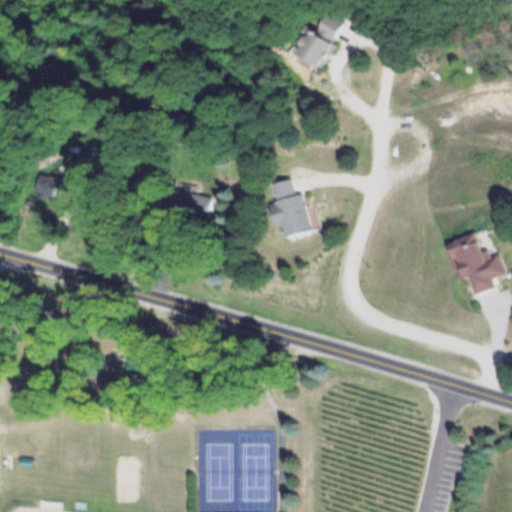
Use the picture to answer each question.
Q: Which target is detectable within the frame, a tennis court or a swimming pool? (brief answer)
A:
tennis court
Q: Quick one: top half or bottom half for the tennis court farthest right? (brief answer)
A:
bottom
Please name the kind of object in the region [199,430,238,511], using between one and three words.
tennis court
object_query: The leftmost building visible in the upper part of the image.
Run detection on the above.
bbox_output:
[37,175,59,200]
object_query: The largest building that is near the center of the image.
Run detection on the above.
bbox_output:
[271,182,318,244]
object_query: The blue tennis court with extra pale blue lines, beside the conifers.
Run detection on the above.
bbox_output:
[238,430,276,511]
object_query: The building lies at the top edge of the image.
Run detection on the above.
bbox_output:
[294,14,346,72]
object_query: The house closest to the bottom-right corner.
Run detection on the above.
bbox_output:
[447,238,512,294]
